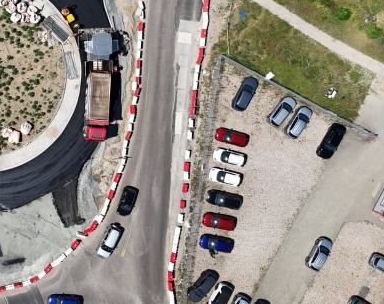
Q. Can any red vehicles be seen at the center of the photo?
Yes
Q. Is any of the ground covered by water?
No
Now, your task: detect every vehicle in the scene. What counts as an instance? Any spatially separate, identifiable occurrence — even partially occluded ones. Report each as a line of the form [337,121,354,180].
[266,95,293,127]
[303,235,329,270]
[213,127,249,146]
[365,251,384,272]
[204,277,233,304]
[188,267,218,301]
[84,66,112,146]
[201,211,236,230]
[204,188,241,208]
[207,166,242,186]
[116,183,138,217]
[98,222,123,256]
[211,146,246,166]
[48,291,83,304]
[197,234,233,256]
[283,105,310,138]
[231,75,256,110]
[59,7,76,23]
[314,122,343,159]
